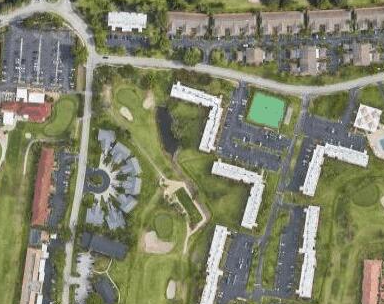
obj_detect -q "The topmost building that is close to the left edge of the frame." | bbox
[2,87,50,129]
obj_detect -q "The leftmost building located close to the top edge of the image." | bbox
[108,11,148,27]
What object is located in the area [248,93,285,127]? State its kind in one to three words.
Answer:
sports court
